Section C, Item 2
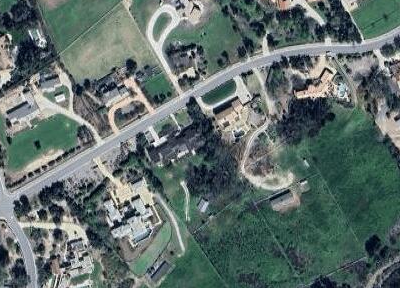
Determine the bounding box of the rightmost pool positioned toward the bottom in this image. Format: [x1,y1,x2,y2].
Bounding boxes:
[132,226,153,242]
